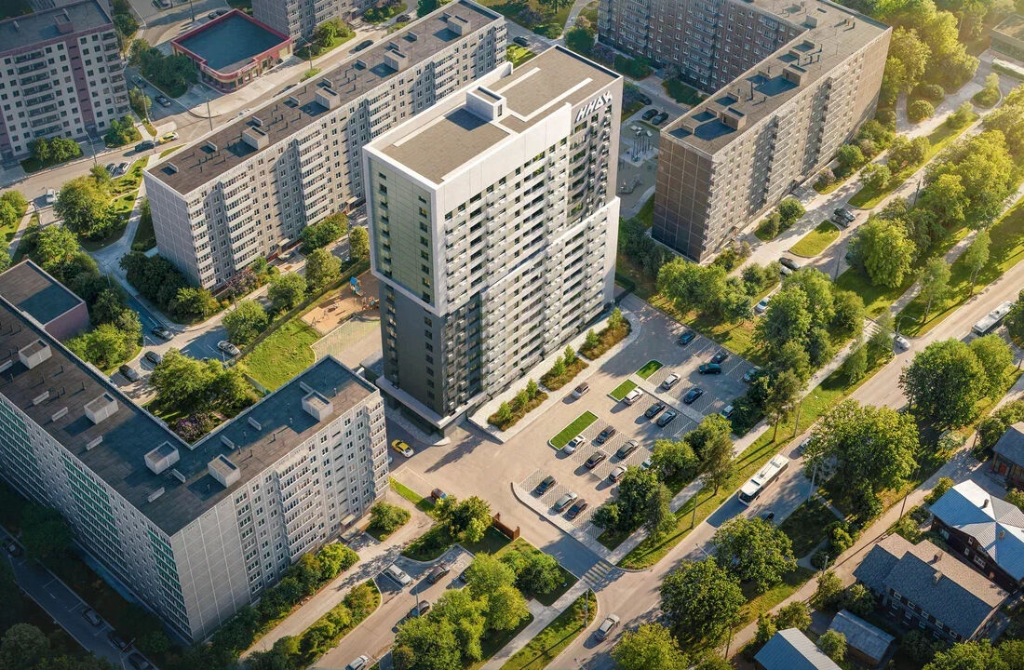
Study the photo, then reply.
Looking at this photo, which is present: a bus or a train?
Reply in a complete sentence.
I can see a bus in this picture.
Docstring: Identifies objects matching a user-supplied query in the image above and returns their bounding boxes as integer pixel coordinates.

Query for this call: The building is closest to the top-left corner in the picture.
[0,2,133,164]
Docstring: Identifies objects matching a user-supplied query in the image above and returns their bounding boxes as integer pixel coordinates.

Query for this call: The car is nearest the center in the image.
[570,382,591,400]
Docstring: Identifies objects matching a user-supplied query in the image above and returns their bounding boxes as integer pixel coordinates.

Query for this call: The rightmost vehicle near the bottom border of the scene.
[594,614,620,639]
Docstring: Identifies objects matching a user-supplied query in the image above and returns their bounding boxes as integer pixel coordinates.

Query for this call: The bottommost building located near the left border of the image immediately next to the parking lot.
[0,296,393,643]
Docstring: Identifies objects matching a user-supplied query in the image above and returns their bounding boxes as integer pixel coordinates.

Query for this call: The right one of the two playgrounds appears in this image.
[617,106,675,216]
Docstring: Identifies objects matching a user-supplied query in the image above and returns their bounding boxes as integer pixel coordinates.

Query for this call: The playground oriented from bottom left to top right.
[298,265,372,337]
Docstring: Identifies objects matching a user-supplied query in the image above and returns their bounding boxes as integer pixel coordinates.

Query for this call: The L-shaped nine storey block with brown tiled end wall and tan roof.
[600,0,893,255]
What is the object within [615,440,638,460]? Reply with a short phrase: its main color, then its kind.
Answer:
gray car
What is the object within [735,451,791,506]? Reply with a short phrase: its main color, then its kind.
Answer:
white bus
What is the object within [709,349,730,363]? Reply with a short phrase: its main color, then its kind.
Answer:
black car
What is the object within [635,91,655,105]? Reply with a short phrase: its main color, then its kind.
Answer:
black car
